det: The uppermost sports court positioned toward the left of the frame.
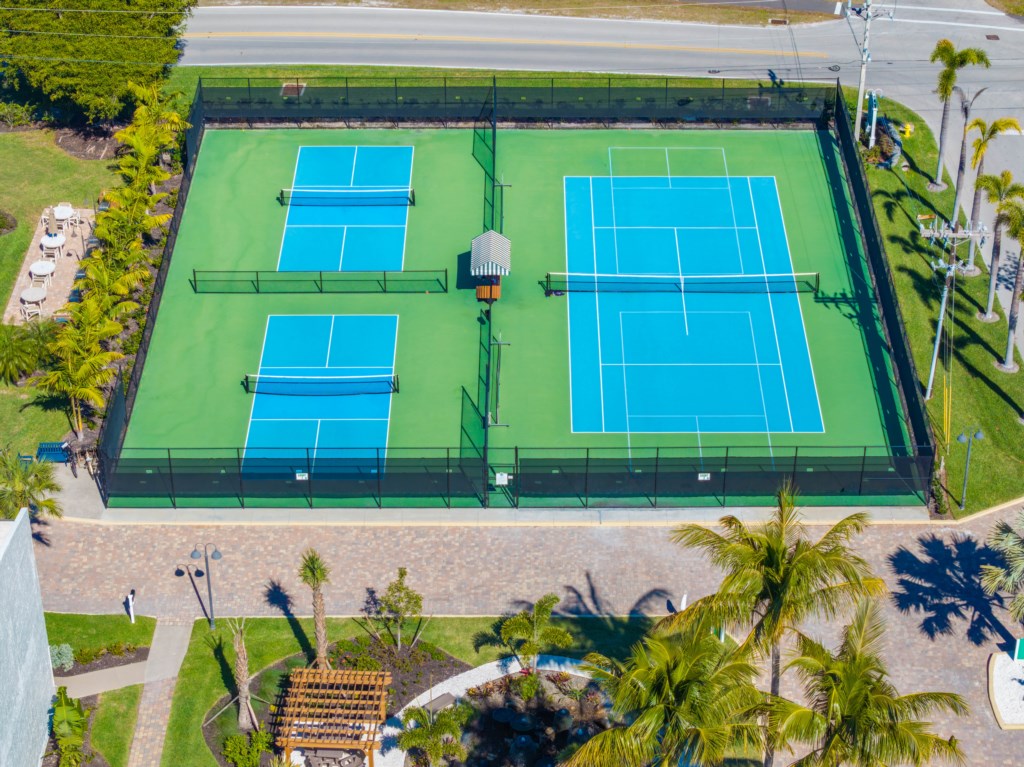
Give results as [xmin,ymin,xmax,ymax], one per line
[277,145,414,272]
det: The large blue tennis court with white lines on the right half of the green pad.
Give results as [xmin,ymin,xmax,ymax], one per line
[564,147,825,457]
